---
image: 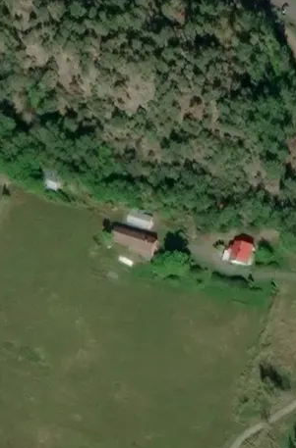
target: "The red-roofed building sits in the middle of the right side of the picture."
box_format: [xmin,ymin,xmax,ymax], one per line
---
[225,232,256,263]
